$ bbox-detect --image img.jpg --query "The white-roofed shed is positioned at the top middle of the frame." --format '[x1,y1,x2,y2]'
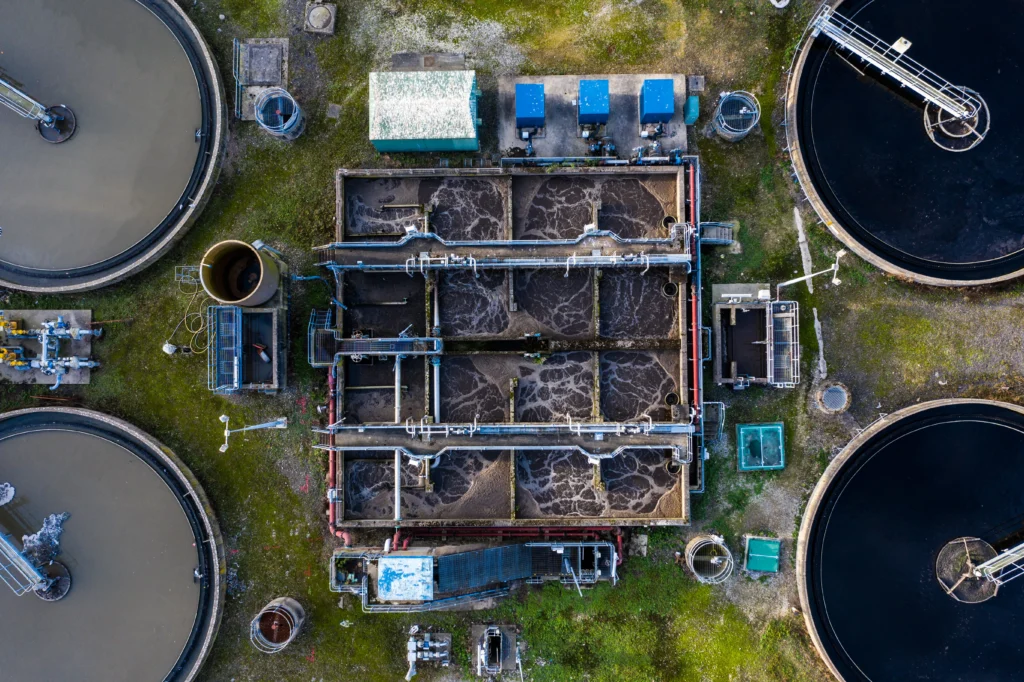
[369,71,484,151]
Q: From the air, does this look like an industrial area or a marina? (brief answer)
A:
industrial area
